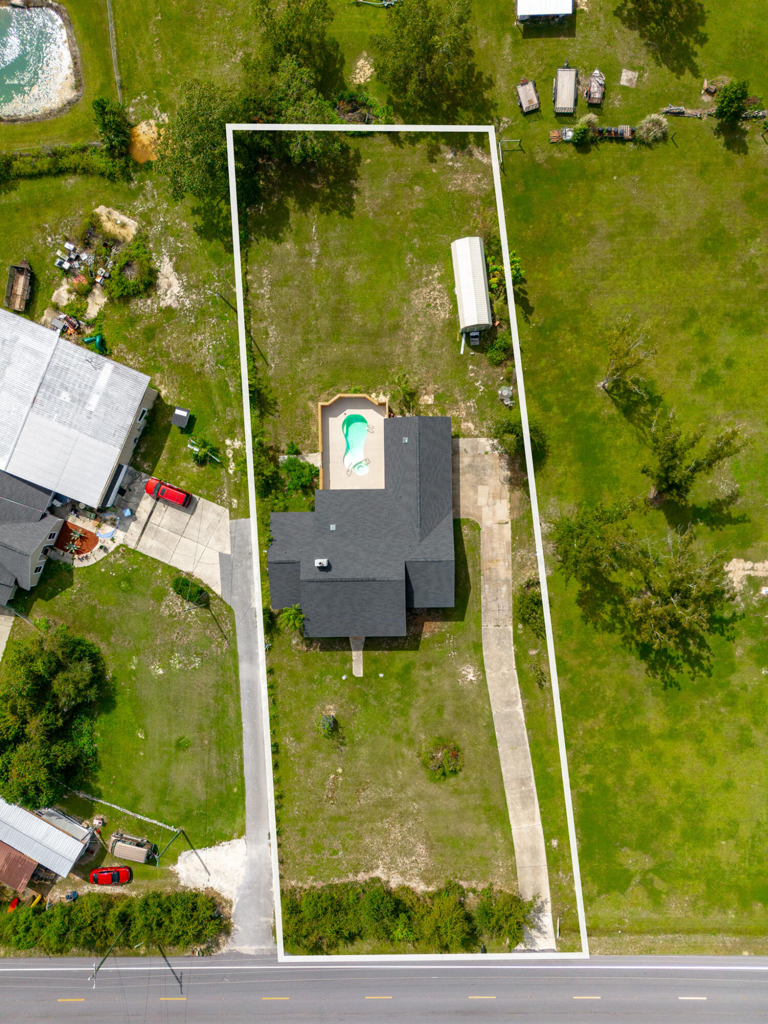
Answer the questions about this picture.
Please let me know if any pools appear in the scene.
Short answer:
Yes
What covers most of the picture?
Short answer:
grass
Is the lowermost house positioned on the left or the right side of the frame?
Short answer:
left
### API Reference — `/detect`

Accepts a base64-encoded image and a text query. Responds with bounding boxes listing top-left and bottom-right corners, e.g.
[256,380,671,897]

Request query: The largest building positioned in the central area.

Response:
[267,416,455,640]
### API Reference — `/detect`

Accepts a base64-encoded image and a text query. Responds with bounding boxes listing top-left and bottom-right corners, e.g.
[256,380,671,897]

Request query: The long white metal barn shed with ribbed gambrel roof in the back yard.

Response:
[453,233,493,332]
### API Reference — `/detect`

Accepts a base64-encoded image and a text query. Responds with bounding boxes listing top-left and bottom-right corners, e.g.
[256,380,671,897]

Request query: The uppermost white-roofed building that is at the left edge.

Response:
[0,313,158,508]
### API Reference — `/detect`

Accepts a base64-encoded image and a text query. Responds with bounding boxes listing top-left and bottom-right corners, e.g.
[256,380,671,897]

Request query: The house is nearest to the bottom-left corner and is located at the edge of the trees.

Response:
[0,780,96,893]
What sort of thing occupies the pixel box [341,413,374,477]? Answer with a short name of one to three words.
swimming pool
